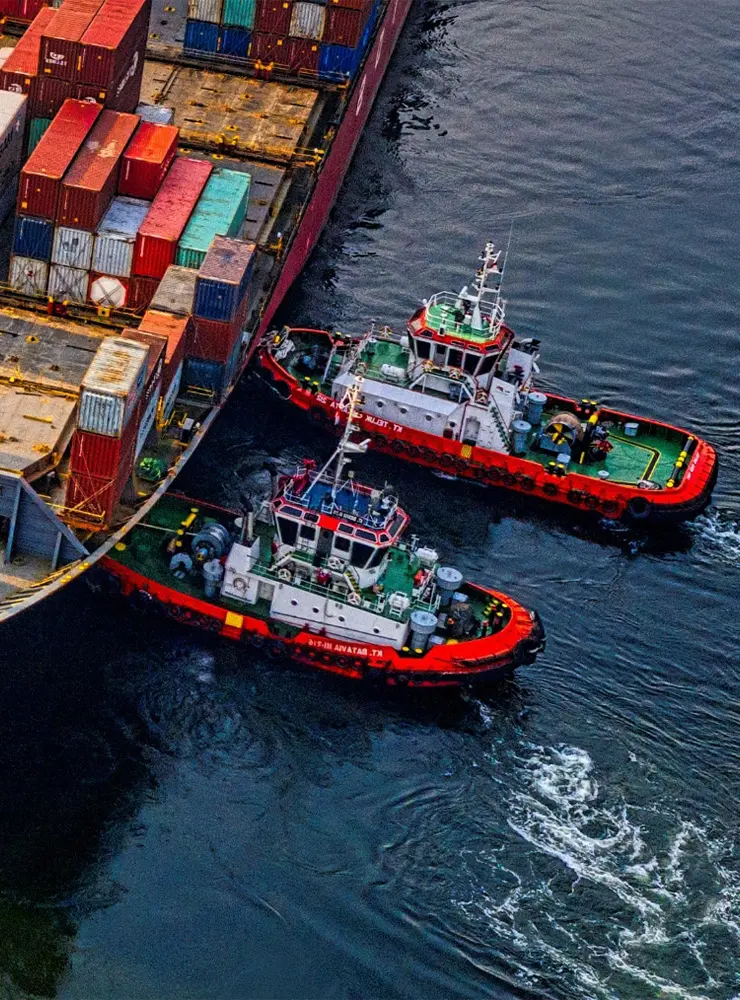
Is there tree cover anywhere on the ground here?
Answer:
No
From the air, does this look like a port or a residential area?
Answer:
port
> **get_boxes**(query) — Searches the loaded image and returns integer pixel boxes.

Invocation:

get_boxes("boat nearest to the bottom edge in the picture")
[91,372,538,695]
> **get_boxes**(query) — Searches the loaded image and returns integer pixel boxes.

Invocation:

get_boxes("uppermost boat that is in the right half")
[254,213,719,521]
